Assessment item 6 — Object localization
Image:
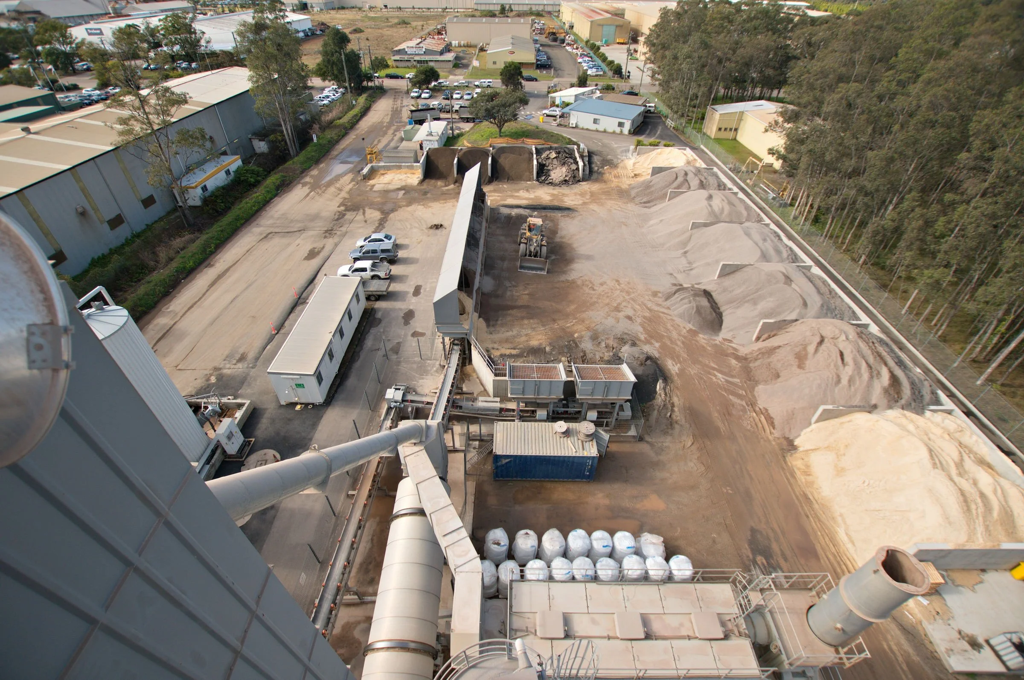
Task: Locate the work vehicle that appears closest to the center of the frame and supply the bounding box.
[518,214,557,274]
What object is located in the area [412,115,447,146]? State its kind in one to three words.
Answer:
shed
